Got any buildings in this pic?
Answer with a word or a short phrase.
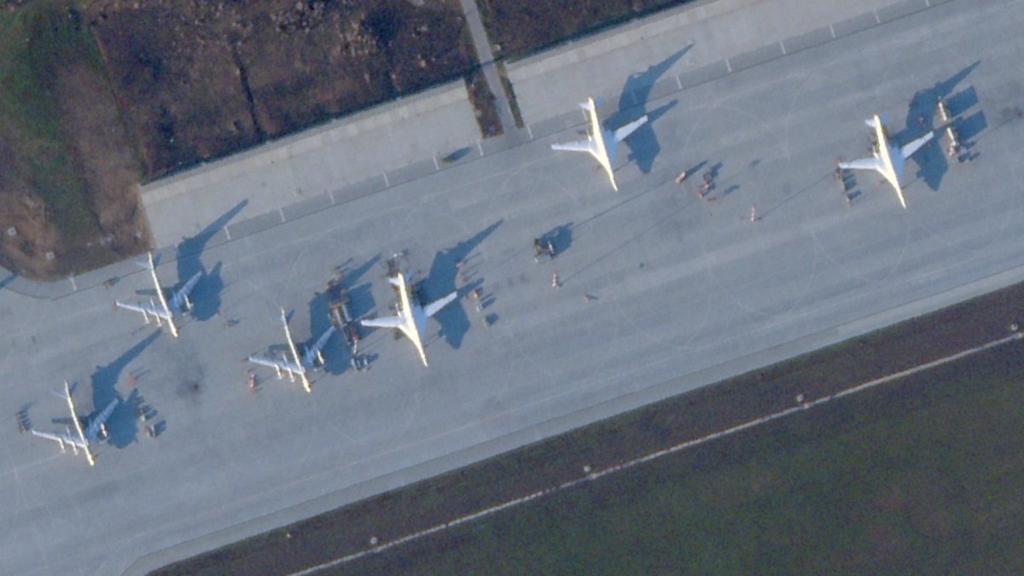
No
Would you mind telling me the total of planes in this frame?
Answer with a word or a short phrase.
6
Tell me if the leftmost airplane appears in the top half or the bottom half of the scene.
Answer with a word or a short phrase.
bottom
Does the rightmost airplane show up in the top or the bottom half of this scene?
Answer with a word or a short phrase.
top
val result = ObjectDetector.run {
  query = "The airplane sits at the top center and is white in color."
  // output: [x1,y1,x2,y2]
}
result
[552,101,647,190]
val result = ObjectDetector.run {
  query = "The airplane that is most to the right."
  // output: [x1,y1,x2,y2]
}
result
[838,117,933,206]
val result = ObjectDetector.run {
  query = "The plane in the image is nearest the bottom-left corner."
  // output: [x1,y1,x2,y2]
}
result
[34,383,120,464]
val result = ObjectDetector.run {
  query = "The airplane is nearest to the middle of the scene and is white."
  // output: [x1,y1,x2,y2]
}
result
[361,275,458,366]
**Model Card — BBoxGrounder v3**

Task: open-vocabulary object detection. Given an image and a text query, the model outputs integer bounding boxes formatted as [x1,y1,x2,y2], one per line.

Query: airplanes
[552,101,647,190]
[34,383,120,464]
[361,275,458,366]
[838,117,933,206]
[118,255,204,337]
[250,311,336,390]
